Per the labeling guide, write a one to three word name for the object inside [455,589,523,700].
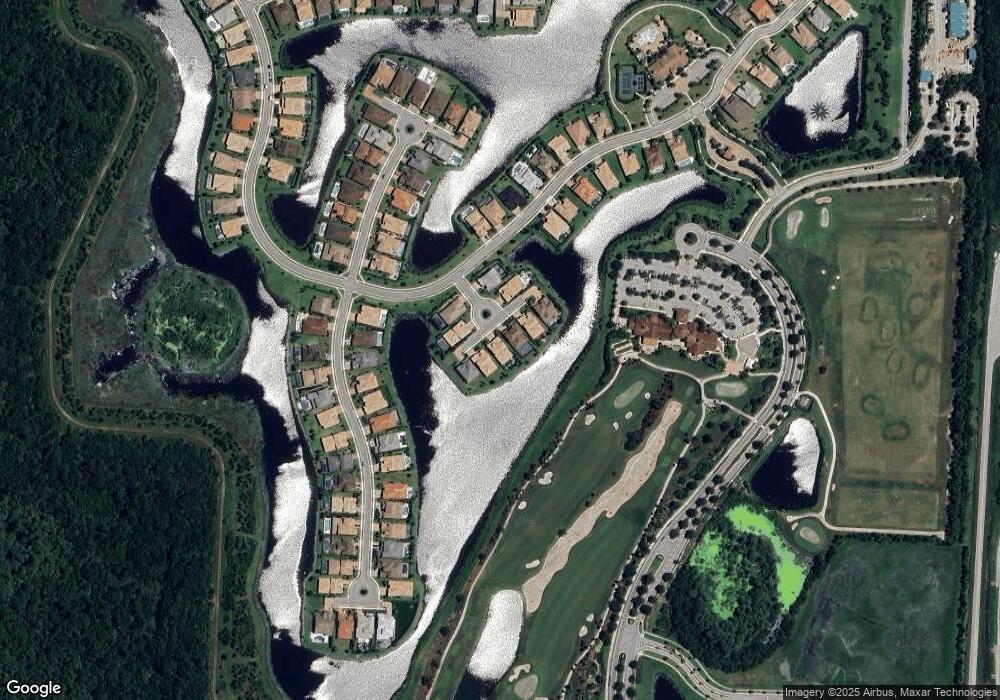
pond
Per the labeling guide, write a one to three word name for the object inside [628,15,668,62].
swimming pool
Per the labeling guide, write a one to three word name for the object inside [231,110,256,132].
house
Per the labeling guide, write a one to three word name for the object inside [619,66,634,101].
tennis court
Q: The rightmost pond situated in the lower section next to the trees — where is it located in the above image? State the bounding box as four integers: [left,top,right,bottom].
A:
[752,418,819,510]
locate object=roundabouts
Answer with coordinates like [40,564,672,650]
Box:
[675,222,707,254]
